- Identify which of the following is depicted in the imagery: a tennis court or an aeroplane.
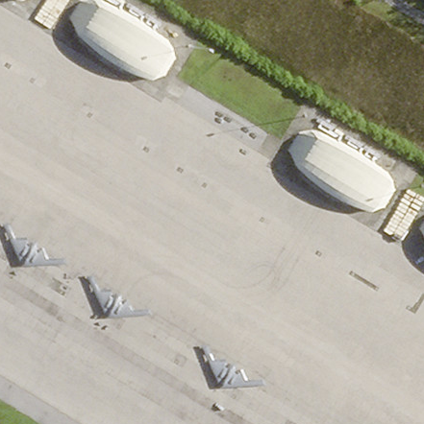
aeroplane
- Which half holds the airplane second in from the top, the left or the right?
left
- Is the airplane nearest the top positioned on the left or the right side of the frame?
left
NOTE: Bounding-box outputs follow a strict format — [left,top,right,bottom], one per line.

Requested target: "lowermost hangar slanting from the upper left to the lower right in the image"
[287,129,395,211]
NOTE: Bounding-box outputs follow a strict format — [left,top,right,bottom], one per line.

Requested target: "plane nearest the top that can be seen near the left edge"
[3,226,67,266]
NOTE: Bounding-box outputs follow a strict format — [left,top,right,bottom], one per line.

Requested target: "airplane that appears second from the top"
[88,279,152,318]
